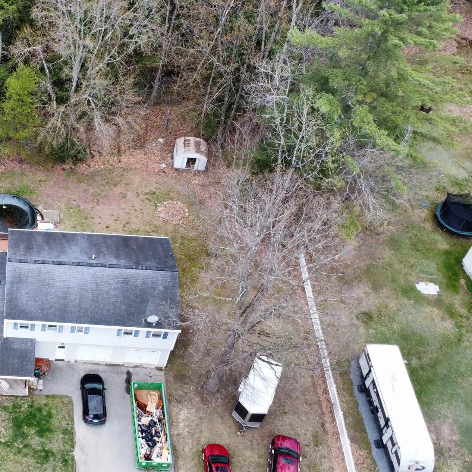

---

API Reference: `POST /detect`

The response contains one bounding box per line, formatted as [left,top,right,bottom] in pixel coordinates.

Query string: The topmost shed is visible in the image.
[171,130,210,170]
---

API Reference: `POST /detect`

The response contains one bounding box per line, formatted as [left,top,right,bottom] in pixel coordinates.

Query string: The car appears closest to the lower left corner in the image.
[78,372,110,429]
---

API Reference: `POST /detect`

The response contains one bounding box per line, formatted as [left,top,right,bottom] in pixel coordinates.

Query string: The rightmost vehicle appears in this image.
[350,344,437,472]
